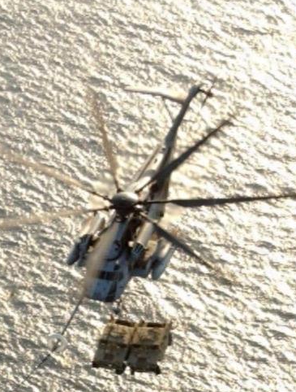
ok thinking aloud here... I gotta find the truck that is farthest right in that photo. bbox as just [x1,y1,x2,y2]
[125,318,170,372]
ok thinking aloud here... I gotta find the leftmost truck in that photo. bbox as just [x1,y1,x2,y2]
[95,315,140,368]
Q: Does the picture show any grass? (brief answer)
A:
No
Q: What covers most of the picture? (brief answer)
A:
water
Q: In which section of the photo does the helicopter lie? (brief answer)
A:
center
